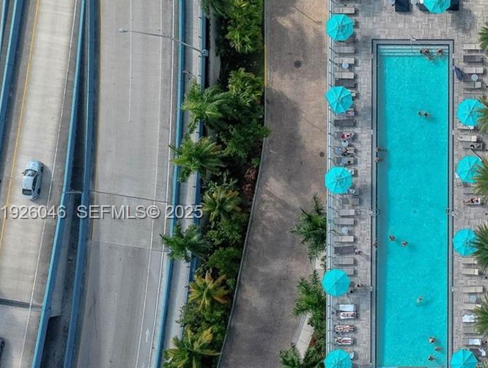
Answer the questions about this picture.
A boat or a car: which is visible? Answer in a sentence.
This aerial view contains a car.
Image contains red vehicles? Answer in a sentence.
No, no red vehicle can be seen from above.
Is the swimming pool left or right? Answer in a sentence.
The swimming pool is on the right side of the image.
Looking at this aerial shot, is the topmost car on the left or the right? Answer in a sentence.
You can find the topmost car on the left side of the picture.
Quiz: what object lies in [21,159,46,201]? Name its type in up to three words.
car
